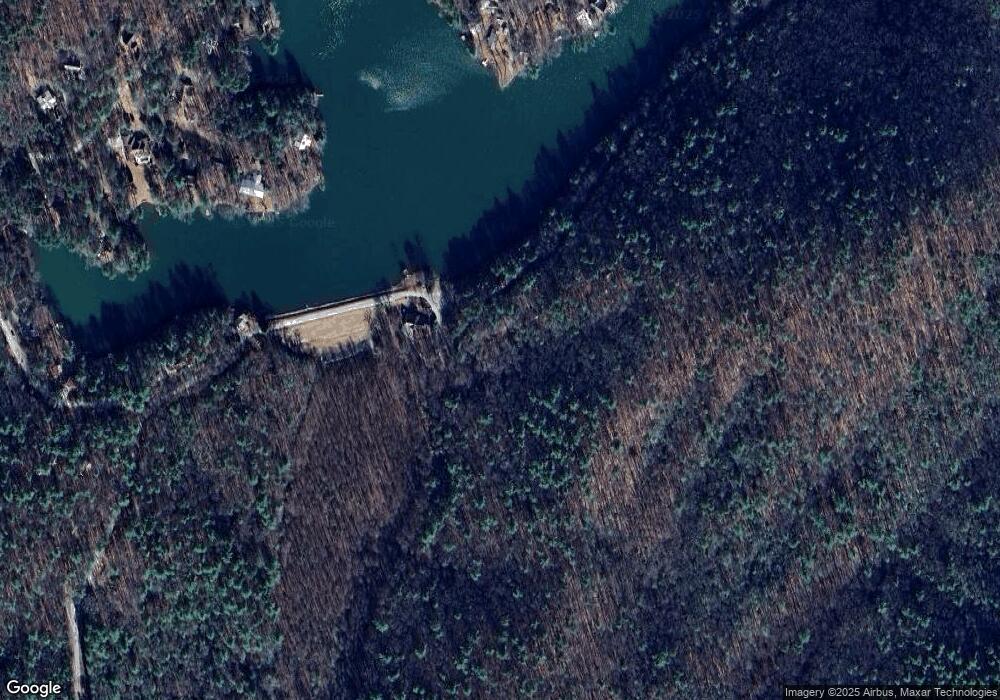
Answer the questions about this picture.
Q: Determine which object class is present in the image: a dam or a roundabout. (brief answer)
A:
dam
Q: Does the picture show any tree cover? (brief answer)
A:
Yes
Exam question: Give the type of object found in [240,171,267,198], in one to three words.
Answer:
house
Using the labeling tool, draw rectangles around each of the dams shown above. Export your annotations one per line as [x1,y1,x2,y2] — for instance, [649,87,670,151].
[259,282,406,352]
